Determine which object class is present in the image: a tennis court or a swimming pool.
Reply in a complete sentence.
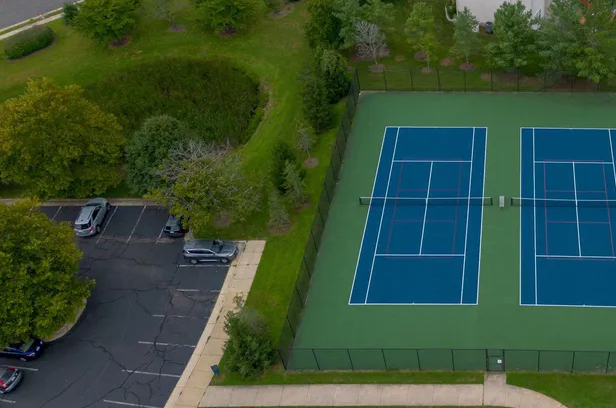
The image shows a tennis court.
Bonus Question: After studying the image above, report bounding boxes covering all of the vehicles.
[69,196,111,238]
[0,364,28,393]
[159,204,188,235]
[181,234,239,261]
[0,330,49,358]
